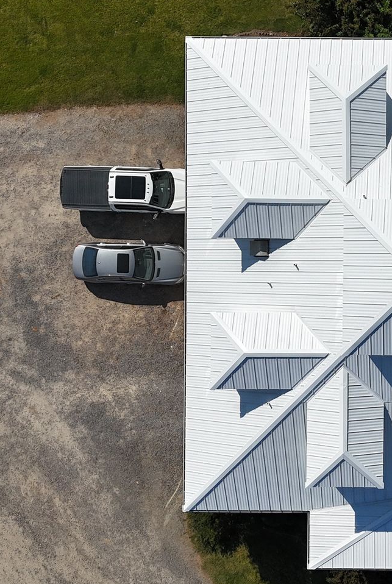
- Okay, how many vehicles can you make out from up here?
2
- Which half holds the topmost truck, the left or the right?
left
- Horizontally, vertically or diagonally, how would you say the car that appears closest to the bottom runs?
horizontally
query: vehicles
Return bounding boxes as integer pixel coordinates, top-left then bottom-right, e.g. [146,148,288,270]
[58,155,186,221]
[73,240,185,287]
